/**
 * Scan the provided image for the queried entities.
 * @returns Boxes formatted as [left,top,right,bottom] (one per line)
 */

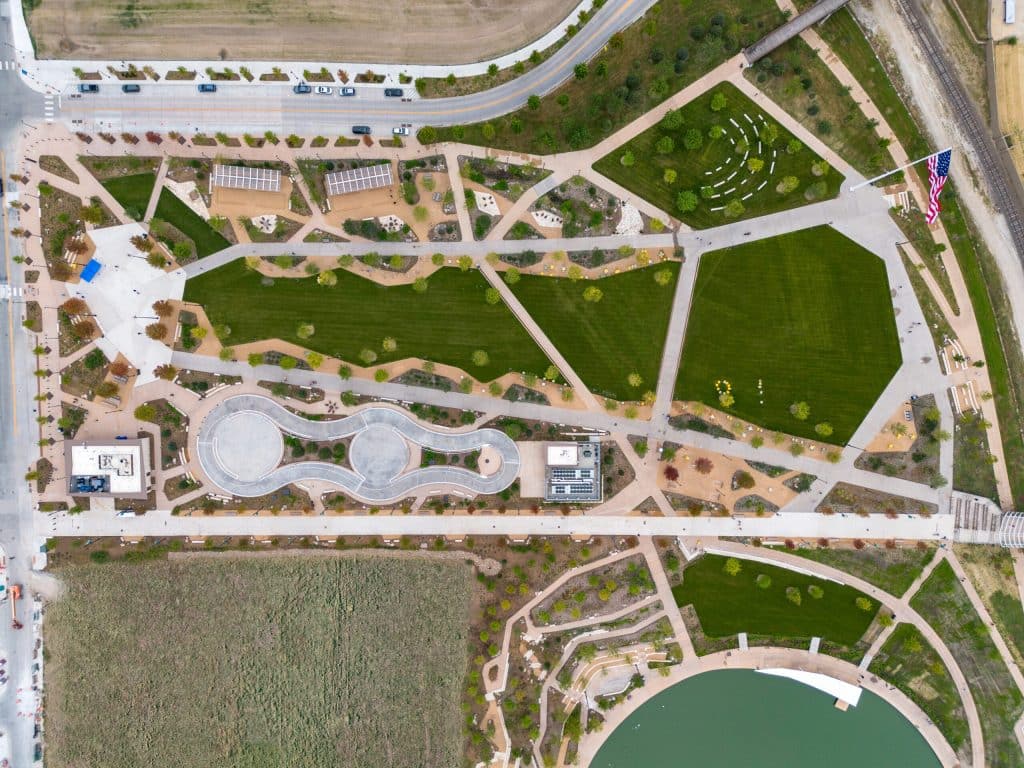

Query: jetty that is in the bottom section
[754,667,862,711]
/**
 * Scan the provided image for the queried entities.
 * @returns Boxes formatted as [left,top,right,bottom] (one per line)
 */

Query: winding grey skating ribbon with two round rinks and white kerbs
[196,393,521,501]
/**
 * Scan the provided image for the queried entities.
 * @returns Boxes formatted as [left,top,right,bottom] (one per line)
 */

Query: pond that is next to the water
[588,666,944,768]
